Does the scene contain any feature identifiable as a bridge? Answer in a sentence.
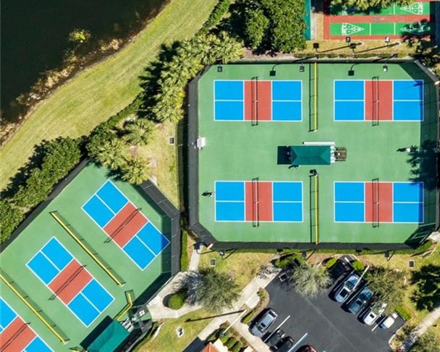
No, there's no bridge here.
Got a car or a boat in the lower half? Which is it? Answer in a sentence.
Looking in the lower half, you will find a car.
